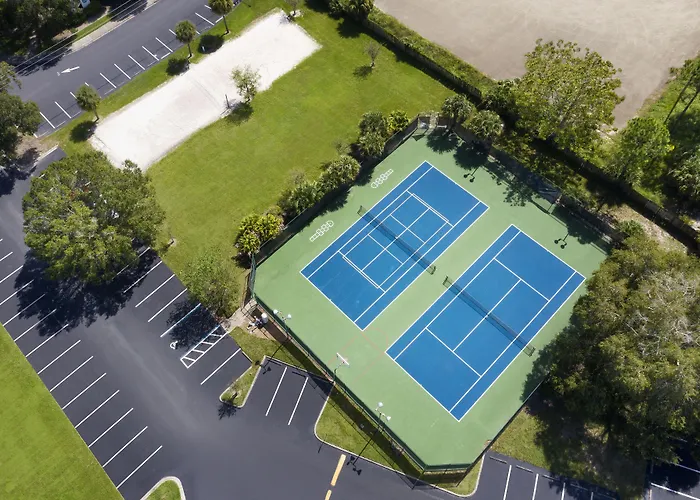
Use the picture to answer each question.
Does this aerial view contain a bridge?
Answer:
No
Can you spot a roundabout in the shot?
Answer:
No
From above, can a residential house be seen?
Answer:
No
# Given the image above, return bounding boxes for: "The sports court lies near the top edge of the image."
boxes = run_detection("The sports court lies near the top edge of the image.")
[90,10,321,170]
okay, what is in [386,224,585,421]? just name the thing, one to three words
tennis court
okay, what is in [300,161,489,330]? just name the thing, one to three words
tennis court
